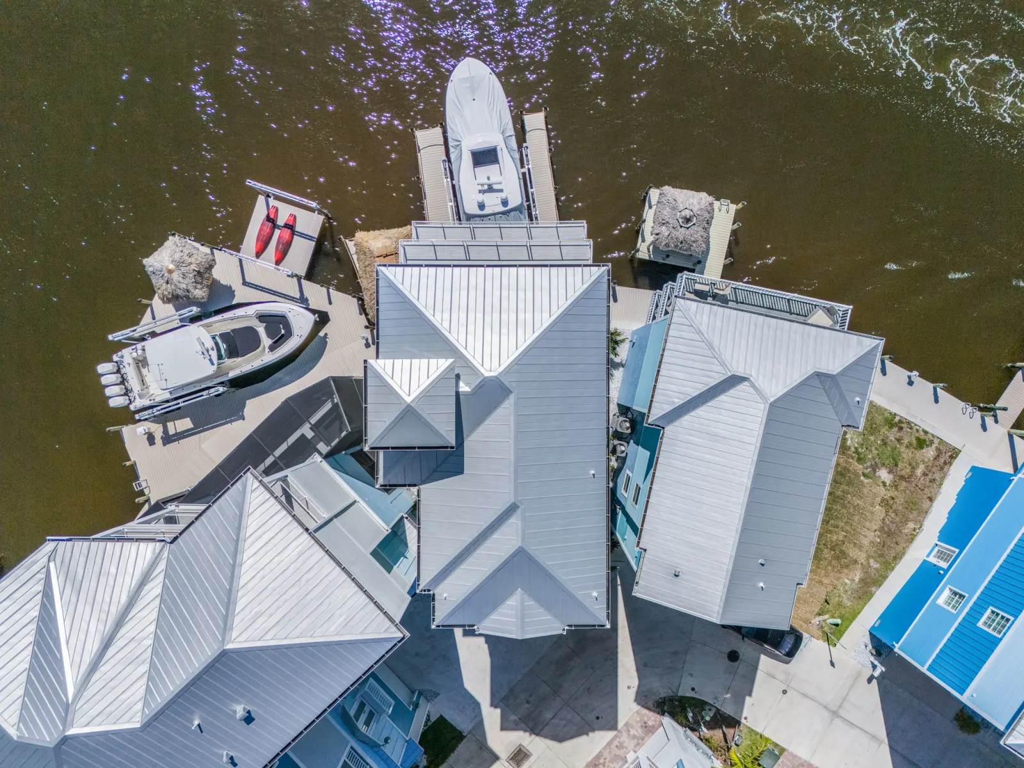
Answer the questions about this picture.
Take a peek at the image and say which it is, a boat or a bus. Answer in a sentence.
The image shows a boat.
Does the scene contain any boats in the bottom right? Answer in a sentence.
No, no boat is visible in the bottom right.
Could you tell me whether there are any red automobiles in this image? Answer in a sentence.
No, there is no red automobile in the image.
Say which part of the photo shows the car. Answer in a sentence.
The car appears toward the bottom right of the photo.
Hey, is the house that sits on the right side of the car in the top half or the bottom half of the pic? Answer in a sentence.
It is in the bottom half that the house that sits on the right side of the car appears.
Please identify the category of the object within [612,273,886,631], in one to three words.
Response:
house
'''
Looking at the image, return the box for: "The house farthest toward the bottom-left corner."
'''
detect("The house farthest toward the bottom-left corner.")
[0,438,429,768]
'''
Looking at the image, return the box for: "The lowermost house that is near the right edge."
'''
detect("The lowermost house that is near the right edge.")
[869,462,1024,760]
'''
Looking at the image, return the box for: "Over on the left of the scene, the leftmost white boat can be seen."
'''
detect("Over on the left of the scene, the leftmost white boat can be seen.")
[98,300,321,409]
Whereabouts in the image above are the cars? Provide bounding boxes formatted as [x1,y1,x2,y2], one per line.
[716,623,801,661]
